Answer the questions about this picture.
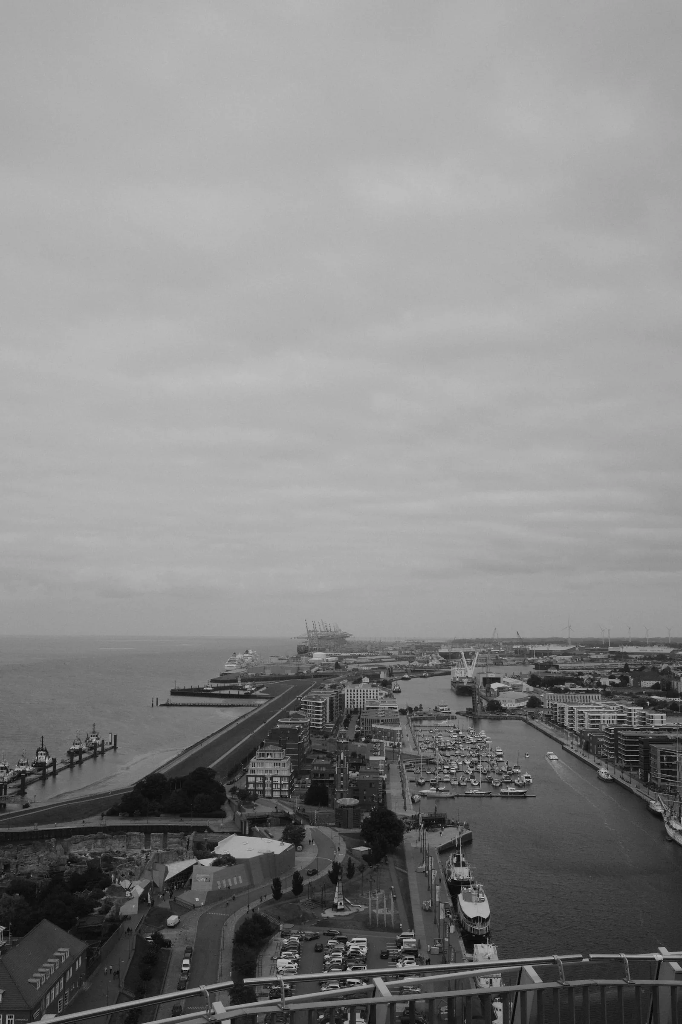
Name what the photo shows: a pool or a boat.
boat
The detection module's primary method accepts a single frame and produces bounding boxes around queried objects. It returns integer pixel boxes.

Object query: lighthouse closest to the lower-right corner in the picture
[335,872,363,915]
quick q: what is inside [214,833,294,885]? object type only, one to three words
building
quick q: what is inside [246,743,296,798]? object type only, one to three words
house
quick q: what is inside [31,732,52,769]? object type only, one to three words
boat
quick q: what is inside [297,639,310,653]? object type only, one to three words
ship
